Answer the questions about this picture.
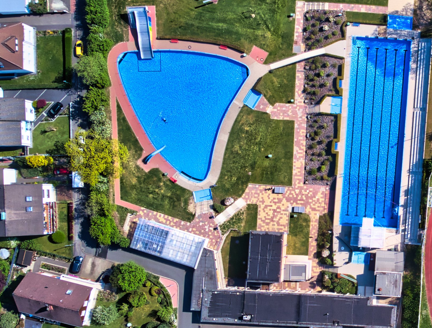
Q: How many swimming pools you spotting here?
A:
2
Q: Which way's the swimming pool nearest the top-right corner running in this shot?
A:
up and down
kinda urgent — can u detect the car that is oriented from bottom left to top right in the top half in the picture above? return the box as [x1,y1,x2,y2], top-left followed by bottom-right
[48,101,62,119]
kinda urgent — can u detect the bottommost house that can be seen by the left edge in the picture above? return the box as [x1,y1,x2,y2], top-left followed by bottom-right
[12,272,108,328]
